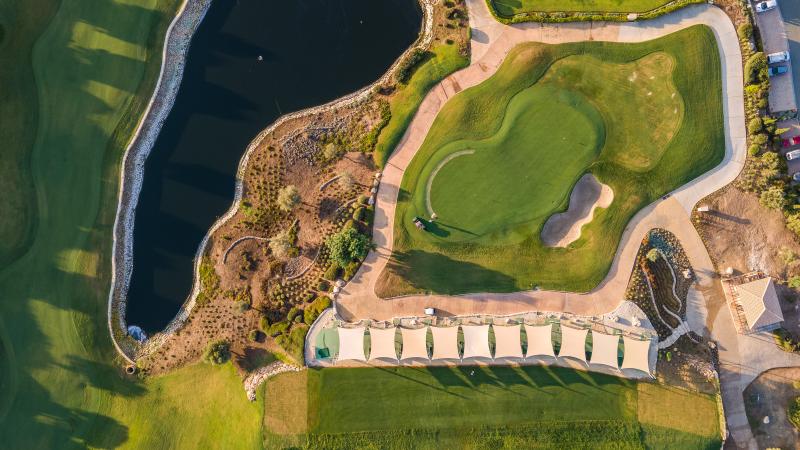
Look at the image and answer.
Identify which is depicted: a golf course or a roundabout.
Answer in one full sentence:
The one in the frame is a golf course.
